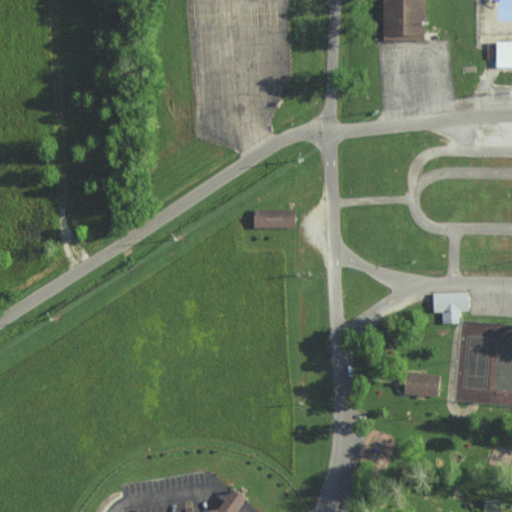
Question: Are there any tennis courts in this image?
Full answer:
Yes, I can see a tennis court in this picture.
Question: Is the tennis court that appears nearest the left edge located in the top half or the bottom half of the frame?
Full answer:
It is in the bottom half that the tennis court that appears nearest the left edge appears.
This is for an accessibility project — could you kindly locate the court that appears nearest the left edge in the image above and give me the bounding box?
[456,322,492,404]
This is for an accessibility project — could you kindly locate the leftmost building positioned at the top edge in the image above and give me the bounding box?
[384,0,428,43]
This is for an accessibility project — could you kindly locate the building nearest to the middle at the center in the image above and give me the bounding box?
[254,210,296,230]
